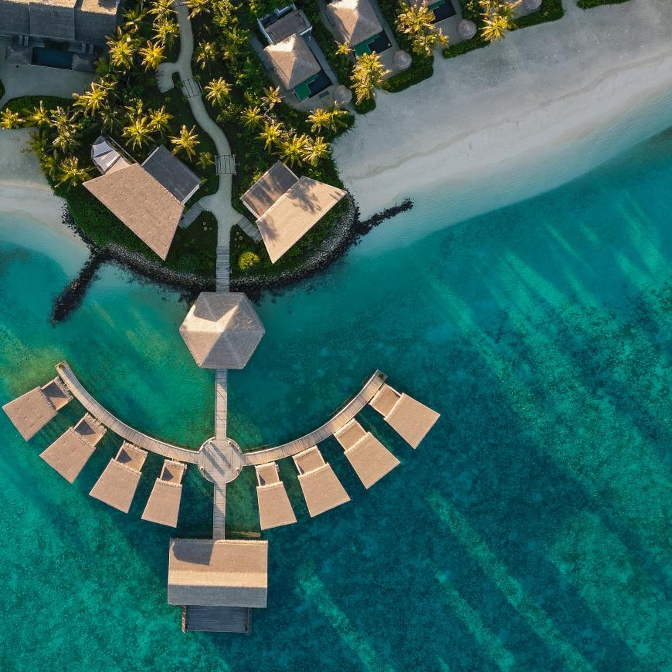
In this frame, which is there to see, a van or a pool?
pool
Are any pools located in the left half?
Yes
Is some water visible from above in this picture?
Yes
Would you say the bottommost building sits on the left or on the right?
left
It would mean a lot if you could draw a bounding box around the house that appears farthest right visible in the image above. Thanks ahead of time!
[367,381,440,449]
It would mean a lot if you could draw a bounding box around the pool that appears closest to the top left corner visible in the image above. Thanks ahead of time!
[32,45,74,70]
